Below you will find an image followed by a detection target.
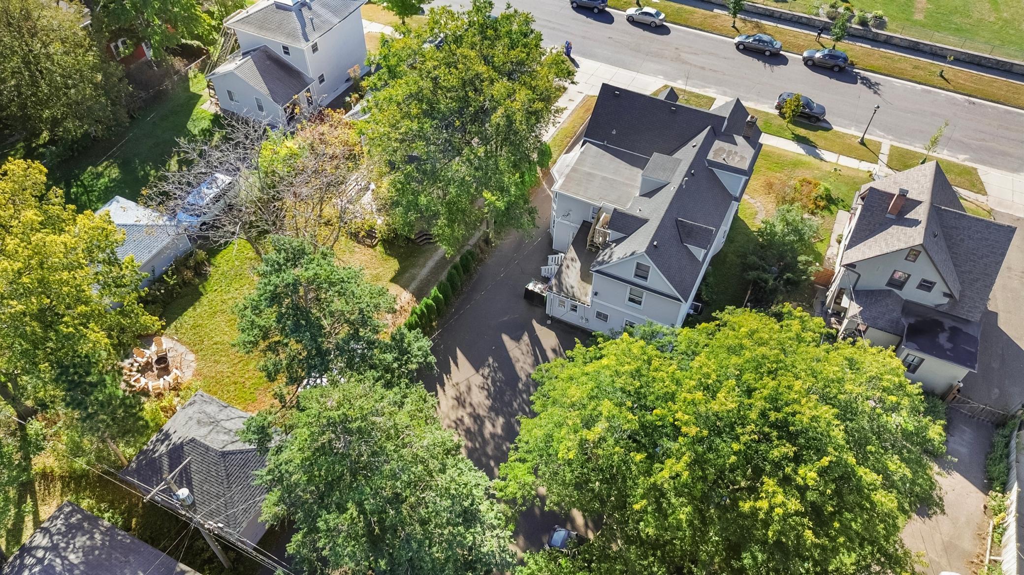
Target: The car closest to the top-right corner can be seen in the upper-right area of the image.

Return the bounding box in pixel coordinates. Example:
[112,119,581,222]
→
[801,48,853,74]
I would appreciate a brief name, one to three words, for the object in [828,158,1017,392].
house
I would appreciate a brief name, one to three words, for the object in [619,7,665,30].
car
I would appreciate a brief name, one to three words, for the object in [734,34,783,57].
car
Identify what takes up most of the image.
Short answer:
trees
